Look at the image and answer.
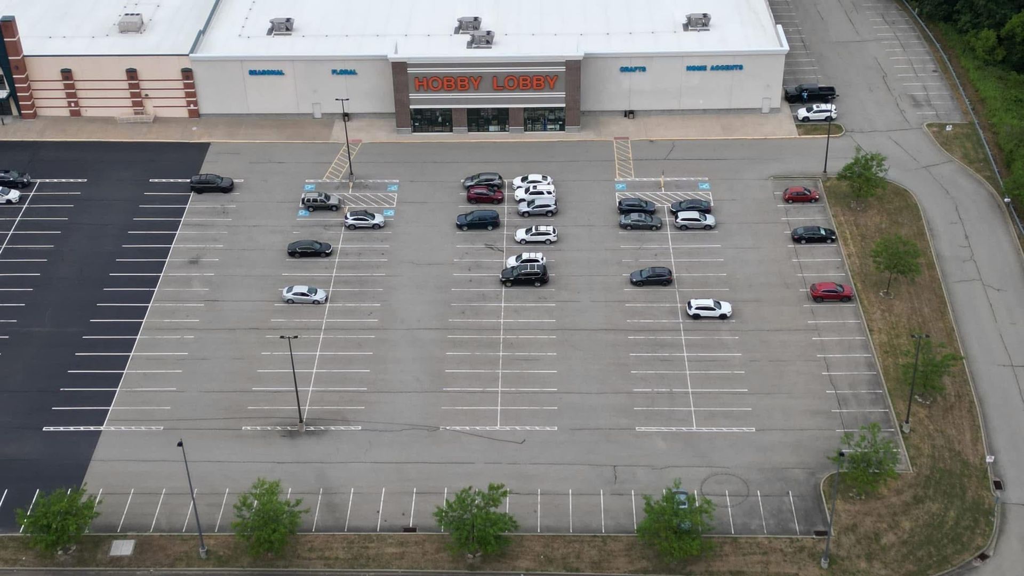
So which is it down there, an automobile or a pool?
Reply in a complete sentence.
The one in the frame is an automobile.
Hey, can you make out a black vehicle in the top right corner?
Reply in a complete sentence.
Yes, a black vehicle is visible in the top right corner.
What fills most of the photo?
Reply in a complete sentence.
What you mostly see from above here is paved ground.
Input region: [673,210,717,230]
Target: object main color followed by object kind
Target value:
white car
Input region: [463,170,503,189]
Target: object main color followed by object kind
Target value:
gray car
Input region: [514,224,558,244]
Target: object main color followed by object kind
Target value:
white car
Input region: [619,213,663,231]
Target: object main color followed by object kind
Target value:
gray car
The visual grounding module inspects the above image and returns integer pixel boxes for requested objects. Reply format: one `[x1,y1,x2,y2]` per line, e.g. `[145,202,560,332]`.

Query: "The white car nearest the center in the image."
[505,249,546,269]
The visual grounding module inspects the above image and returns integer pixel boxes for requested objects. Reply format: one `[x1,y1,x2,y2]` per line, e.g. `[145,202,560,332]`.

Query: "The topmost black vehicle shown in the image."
[783,84,835,103]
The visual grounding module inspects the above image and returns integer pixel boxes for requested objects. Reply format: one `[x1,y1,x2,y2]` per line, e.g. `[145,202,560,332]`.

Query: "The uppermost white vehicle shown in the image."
[796,103,837,122]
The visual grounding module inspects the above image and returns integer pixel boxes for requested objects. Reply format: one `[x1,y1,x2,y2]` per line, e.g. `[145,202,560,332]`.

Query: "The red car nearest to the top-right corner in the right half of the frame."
[782,186,820,203]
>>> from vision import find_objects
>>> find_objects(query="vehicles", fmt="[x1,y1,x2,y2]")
[685,297,732,319]
[287,240,333,258]
[783,84,835,103]
[463,170,503,189]
[0,187,20,203]
[455,210,500,231]
[616,195,657,215]
[667,197,711,214]
[514,224,558,244]
[0,168,32,188]
[466,185,503,204]
[518,198,558,217]
[281,285,327,304]
[673,210,717,230]
[343,211,386,230]
[499,263,547,287]
[792,226,837,244]
[190,173,235,194]
[782,186,820,203]
[505,249,546,269]
[514,181,556,202]
[796,103,837,122]
[631,266,674,287]
[301,191,342,212]
[619,213,663,231]
[807,282,854,303]
[512,173,552,187]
